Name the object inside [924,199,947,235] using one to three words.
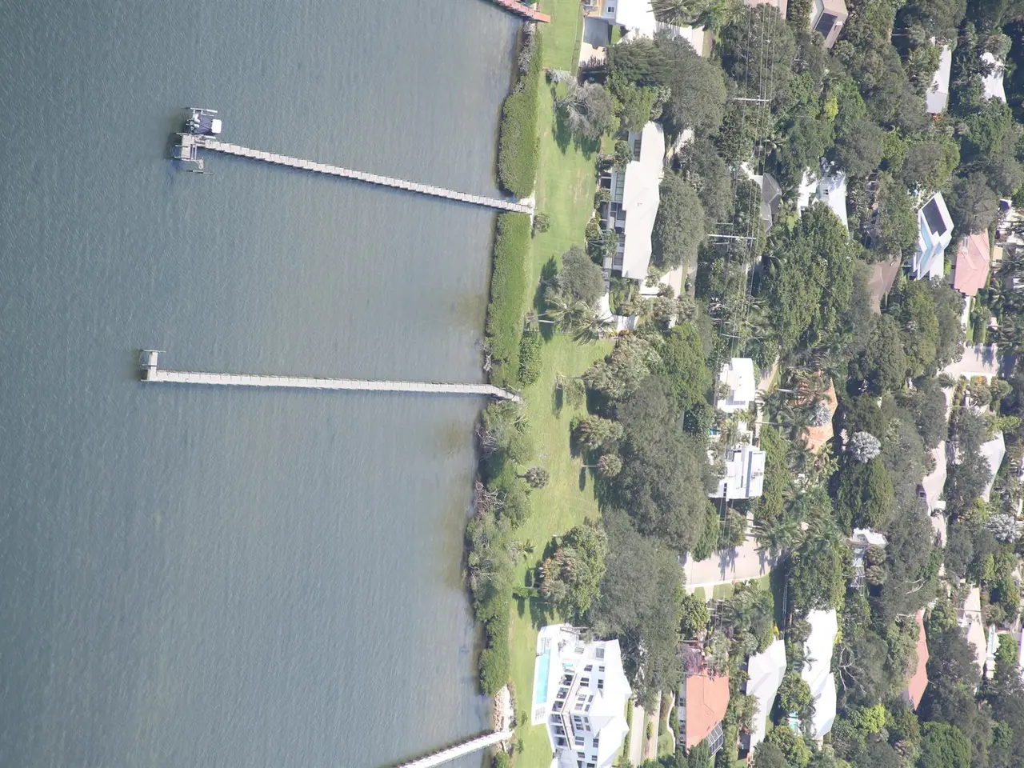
solar panel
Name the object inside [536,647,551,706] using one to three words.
swimming pool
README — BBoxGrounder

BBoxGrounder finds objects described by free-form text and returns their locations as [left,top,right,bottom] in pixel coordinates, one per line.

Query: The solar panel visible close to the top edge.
[817,11,837,36]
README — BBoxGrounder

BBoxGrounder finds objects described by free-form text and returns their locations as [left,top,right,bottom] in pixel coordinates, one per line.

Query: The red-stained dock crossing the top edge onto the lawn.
[482,0,550,25]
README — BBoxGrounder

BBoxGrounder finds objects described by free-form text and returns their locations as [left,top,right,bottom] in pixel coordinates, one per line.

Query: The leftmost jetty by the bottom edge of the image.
[385,727,510,768]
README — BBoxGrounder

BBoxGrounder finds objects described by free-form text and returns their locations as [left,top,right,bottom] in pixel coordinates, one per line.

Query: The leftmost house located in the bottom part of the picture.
[540,639,631,768]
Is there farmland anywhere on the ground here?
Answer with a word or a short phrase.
No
